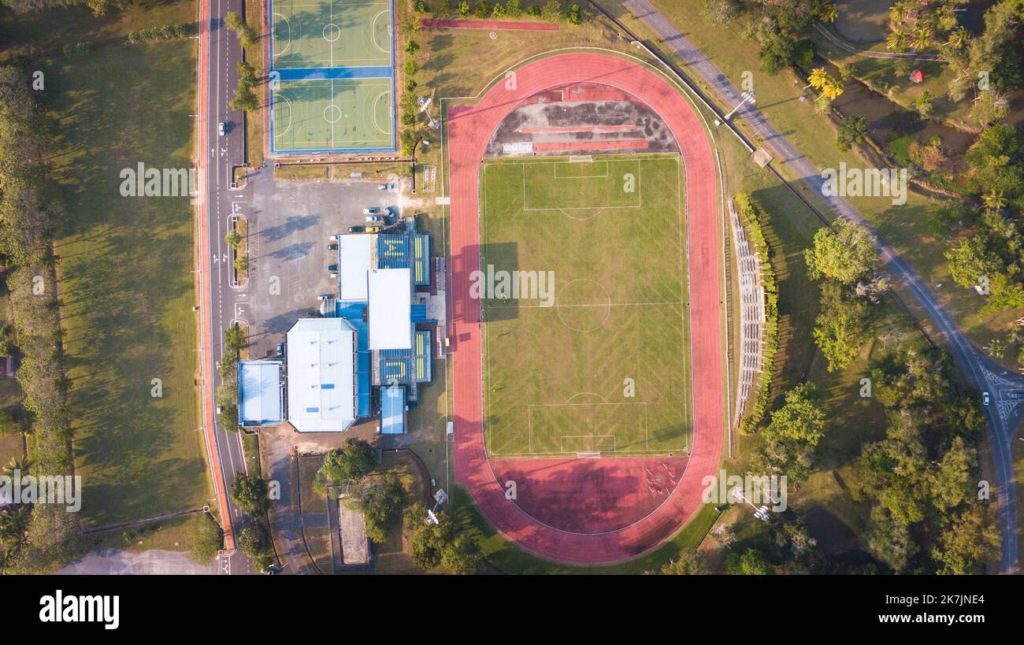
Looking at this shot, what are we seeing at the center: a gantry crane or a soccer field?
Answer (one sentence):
Looking at the center, you will find a soccer field.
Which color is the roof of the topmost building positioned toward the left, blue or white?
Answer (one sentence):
In this view, the roof of the topmost building positioned toward the left is white.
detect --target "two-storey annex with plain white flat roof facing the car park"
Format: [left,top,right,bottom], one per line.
[339,234,371,299]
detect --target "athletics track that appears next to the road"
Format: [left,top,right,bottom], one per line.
[447,52,722,565]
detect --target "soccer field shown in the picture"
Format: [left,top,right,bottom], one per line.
[479,152,692,458]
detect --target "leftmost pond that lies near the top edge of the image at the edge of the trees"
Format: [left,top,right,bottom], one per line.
[832,0,897,45]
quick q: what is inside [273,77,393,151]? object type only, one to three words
sports court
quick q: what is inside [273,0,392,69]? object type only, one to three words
sports court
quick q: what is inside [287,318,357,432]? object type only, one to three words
building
